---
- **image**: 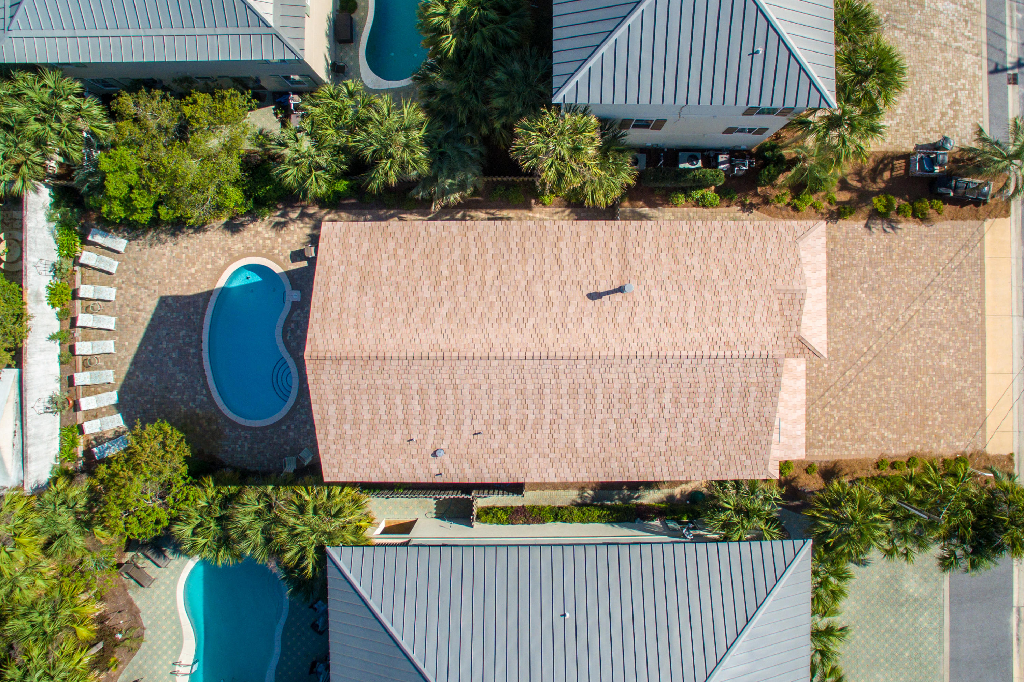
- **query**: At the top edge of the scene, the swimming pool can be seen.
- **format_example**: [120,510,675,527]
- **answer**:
[358,0,442,87]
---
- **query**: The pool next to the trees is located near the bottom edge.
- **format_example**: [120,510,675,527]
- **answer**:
[168,543,291,682]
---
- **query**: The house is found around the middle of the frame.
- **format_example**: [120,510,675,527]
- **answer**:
[303,219,828,484]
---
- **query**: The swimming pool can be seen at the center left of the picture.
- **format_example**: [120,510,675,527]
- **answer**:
[201,257,300,427]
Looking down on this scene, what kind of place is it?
residential area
